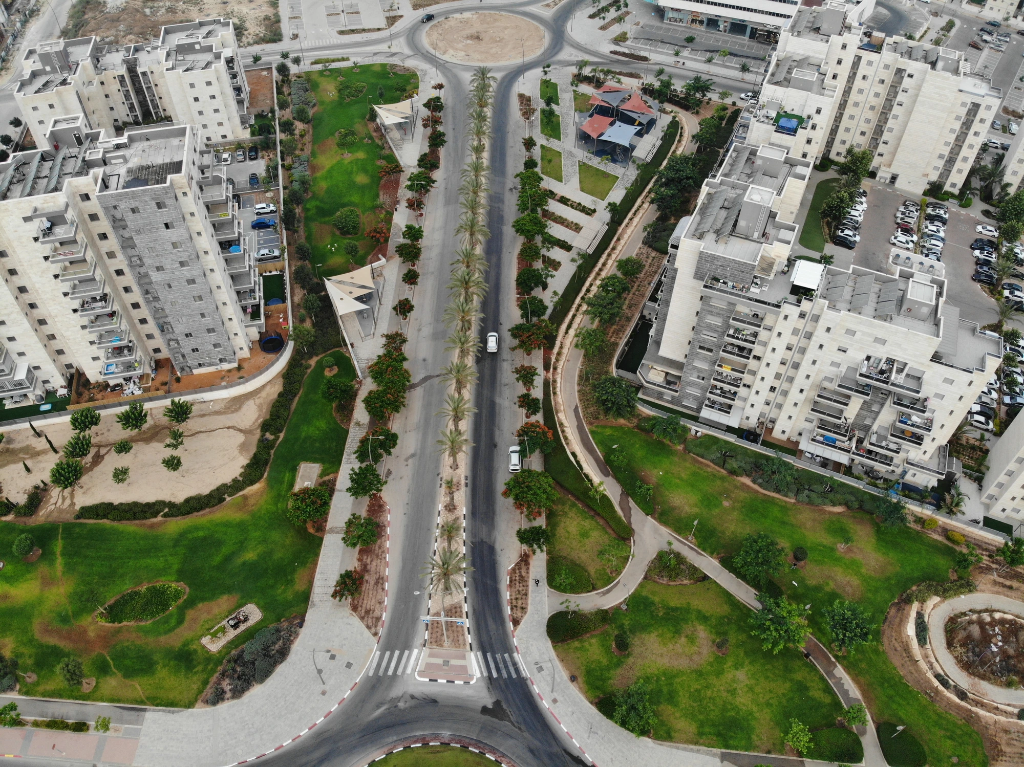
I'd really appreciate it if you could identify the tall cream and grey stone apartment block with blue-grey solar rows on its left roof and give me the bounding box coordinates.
[0,115,263,401]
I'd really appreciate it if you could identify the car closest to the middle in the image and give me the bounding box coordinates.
[485,333,499,353]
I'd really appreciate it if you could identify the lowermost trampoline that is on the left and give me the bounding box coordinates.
[259,328,283,351]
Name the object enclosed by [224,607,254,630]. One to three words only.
work vehicle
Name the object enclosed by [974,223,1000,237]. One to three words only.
car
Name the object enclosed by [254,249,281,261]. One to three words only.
vehicle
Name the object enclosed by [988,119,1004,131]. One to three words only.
vehicle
